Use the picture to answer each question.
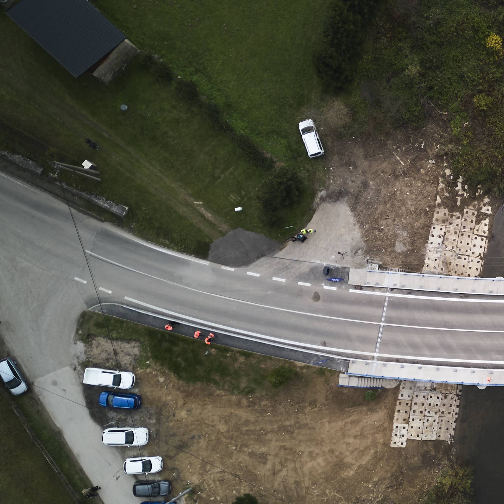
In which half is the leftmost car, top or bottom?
bottom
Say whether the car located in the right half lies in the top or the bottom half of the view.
top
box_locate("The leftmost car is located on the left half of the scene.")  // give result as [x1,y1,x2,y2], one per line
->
[0,356,28,397]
